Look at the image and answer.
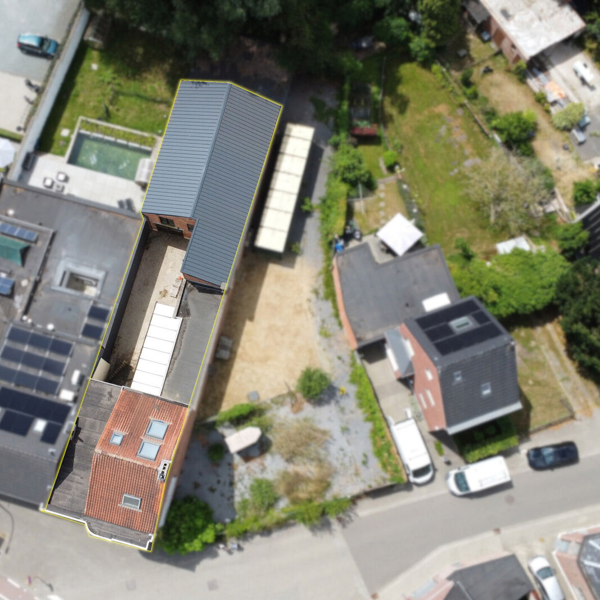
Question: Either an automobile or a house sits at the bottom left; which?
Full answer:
There is a house at the bottom left.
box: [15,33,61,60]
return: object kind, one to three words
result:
car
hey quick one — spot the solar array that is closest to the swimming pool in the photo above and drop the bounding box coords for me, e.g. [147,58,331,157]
[0,222,39,244]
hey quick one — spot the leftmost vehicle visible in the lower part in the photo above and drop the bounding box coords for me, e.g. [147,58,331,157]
[385,412,432,486]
